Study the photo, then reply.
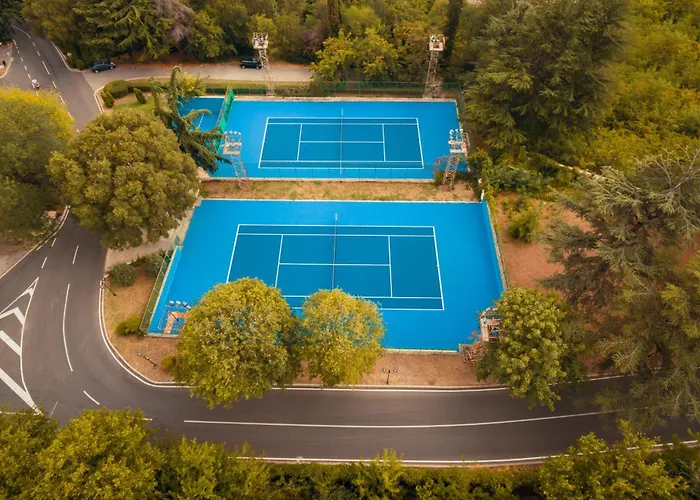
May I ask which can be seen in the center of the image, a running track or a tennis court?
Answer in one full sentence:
There is a tennis court in the center of the image.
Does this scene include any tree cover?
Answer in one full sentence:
Yes, some tree cover is visible.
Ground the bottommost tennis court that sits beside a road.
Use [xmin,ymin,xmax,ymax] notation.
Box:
[152,199,500,351]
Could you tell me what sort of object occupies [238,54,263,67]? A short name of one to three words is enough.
vehicle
